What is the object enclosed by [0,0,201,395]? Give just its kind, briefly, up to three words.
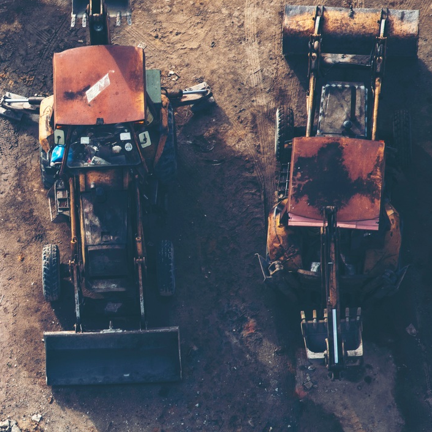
work vehicle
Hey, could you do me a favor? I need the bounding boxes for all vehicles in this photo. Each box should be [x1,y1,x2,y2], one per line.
[0,0,201,395]
[252,8,420,387]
